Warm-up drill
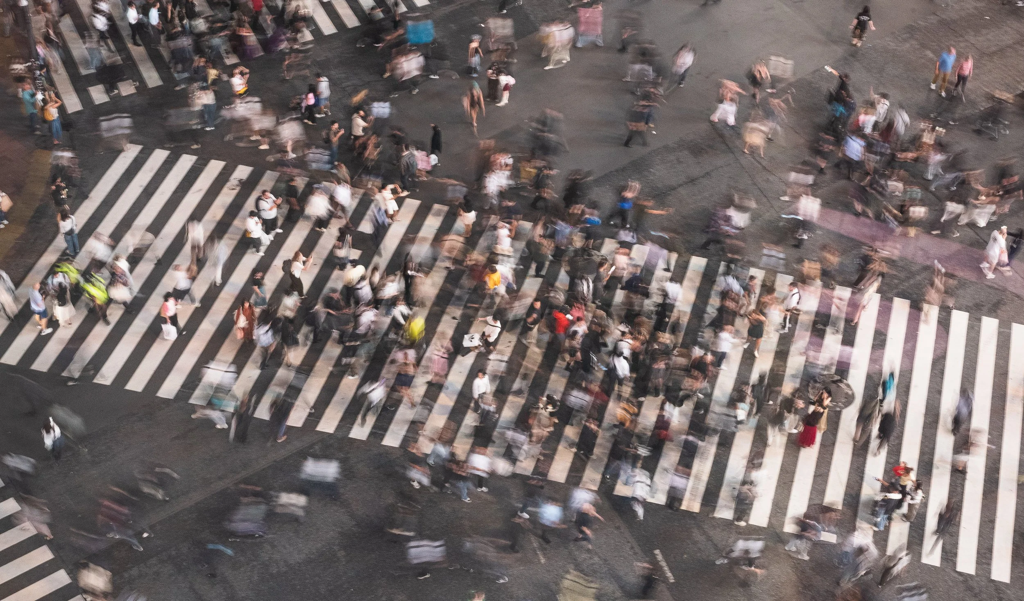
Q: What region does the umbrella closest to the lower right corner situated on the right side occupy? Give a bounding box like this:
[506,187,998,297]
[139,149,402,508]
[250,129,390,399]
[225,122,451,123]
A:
[806,381,854,421]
